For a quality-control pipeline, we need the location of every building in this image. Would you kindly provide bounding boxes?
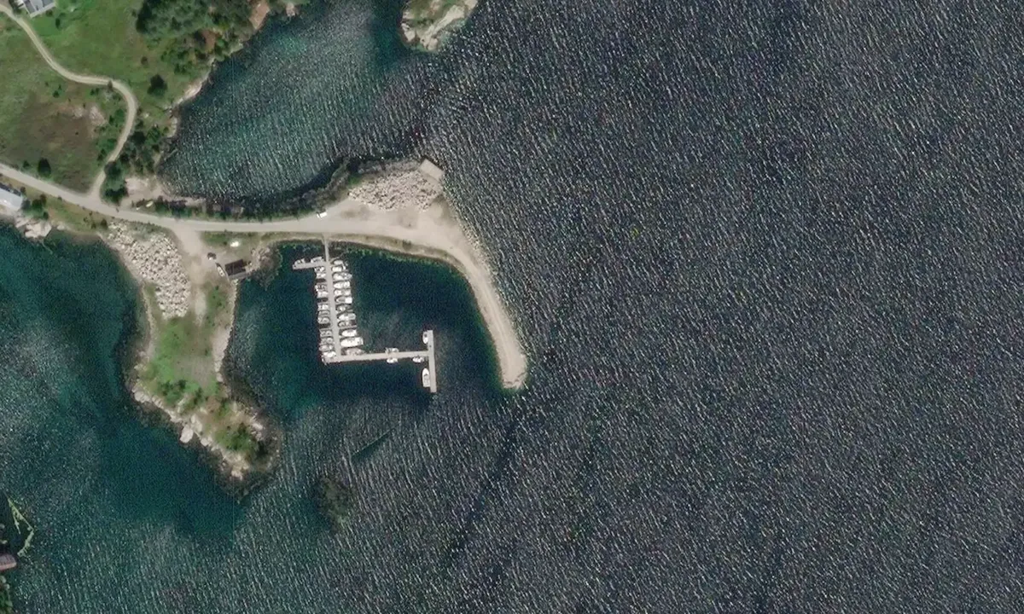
[0,185,23,215]
[226,259,245,275]
[0,553,14,568]
[25,0,56,18]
